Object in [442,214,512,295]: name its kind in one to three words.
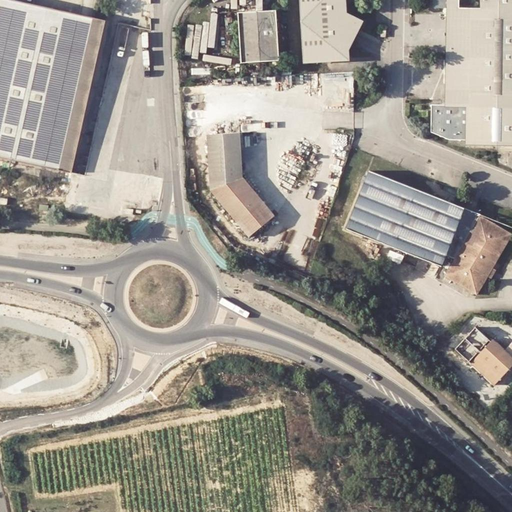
house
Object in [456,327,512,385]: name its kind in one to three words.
house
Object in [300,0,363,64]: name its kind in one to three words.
building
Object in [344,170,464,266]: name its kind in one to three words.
building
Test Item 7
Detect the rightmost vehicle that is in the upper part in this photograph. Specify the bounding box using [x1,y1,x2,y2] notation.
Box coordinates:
[306,182,318,199]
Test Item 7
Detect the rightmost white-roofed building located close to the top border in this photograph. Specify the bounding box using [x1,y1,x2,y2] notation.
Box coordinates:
[445,0,512,146]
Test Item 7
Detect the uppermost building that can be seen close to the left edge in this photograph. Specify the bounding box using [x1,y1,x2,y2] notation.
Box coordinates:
[0,0,105,172]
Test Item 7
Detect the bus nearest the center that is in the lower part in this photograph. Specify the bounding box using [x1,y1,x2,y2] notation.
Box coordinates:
[220,298,250,318]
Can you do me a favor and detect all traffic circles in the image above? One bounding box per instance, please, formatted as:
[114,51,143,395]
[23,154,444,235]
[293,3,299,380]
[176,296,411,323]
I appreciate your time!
[102,238,217,354]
